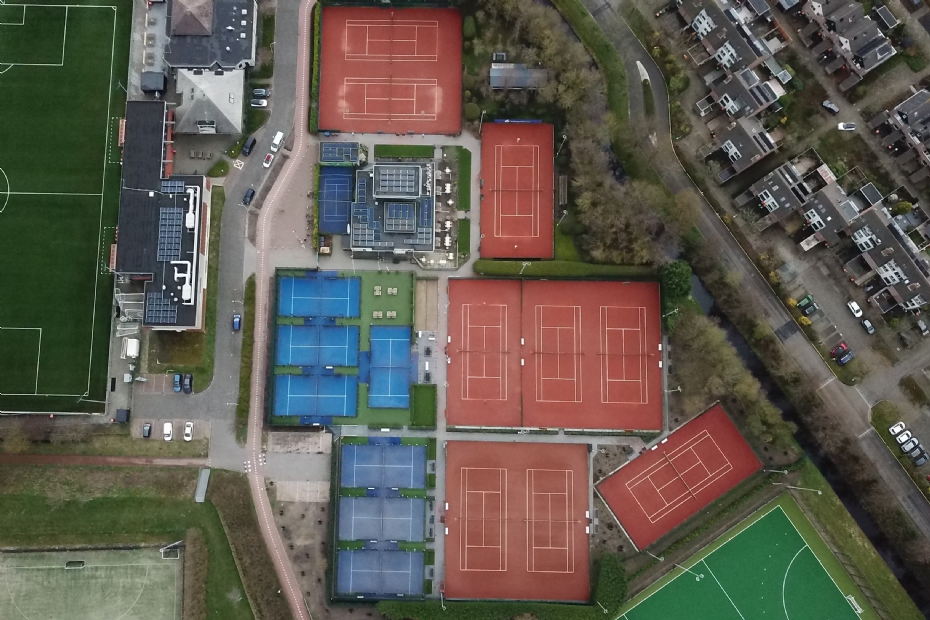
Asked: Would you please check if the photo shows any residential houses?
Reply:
Yes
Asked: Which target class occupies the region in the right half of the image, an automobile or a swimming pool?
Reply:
automobile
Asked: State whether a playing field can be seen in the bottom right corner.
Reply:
Yes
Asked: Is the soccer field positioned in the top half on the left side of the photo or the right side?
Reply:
left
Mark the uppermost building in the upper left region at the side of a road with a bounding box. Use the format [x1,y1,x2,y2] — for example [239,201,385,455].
[163,0,261,74]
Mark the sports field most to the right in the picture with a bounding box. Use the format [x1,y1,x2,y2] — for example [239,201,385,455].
[601,492,884,620]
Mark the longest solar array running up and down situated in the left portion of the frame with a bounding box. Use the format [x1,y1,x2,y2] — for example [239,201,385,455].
[158,208,182,261]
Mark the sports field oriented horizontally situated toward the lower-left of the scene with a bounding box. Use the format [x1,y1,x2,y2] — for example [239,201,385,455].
[0,546,183,620]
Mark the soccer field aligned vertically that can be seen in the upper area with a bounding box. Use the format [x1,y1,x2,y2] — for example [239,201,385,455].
[0,0,133,411]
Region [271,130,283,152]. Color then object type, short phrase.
white vehicle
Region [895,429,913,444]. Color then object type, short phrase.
white car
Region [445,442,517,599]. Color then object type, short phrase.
red tennis court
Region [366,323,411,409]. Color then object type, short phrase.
blue sports court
